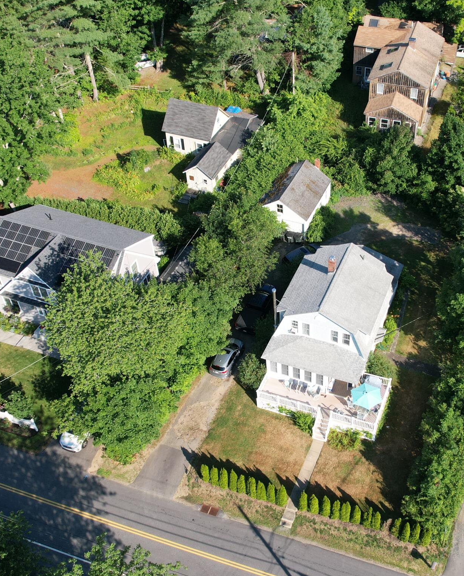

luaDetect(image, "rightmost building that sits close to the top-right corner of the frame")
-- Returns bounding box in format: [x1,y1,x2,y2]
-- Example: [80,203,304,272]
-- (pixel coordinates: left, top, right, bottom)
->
[353,19,461,136]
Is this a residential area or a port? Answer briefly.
residential area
